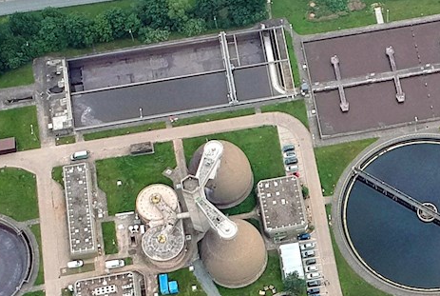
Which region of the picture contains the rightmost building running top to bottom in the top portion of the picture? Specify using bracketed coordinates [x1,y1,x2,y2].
[34,56,69,133]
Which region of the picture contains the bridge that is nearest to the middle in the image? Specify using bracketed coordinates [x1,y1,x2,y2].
[199,134,226,182]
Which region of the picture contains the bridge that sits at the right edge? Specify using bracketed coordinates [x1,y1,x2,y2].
[351,164,440,220]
